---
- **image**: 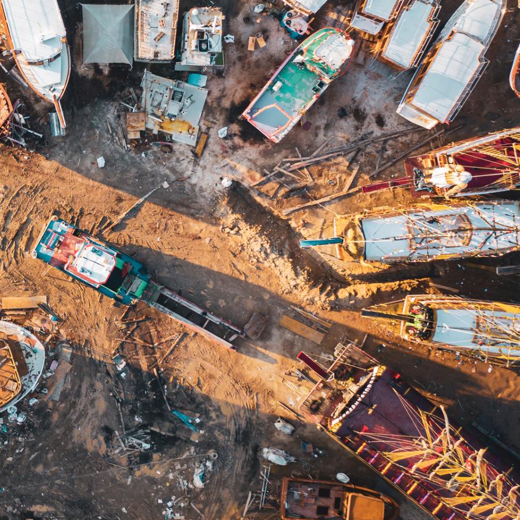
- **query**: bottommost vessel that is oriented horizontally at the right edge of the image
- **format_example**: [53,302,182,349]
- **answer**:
[360,293,520,370]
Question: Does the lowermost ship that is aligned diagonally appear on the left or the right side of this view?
right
